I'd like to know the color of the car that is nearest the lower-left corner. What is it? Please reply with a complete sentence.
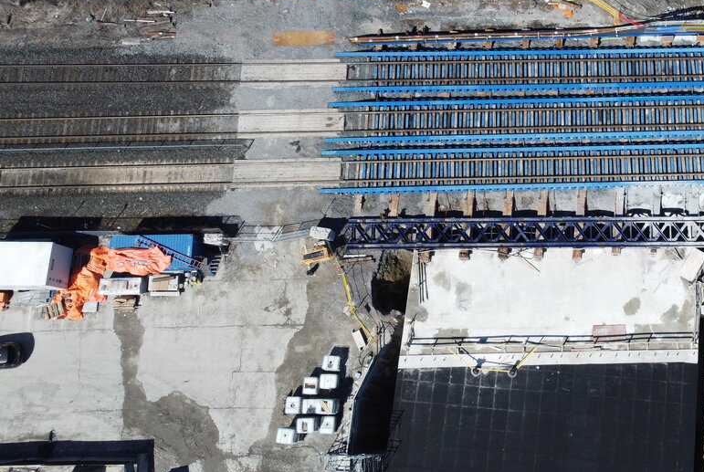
In this view, the car that is nearest the lower-left corner is black.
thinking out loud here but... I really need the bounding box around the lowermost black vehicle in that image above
[0,343,21,369]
